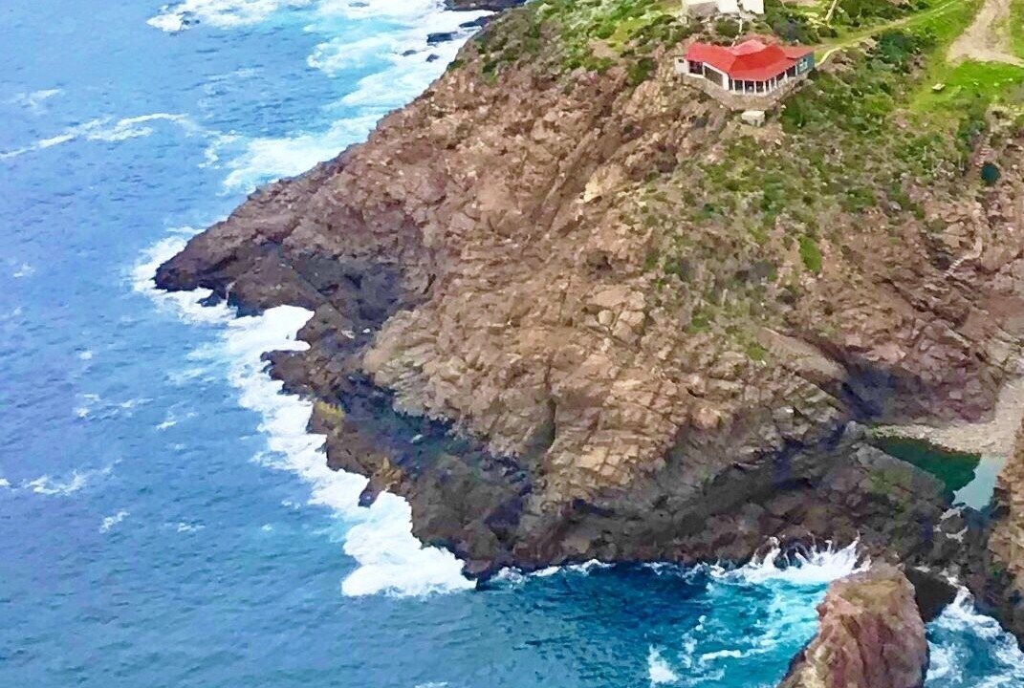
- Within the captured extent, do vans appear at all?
No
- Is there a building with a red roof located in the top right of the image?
Yes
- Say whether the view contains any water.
Yes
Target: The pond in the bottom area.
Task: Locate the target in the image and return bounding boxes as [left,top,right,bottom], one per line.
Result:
[882,433,1010,511]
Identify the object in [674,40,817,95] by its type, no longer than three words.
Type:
building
